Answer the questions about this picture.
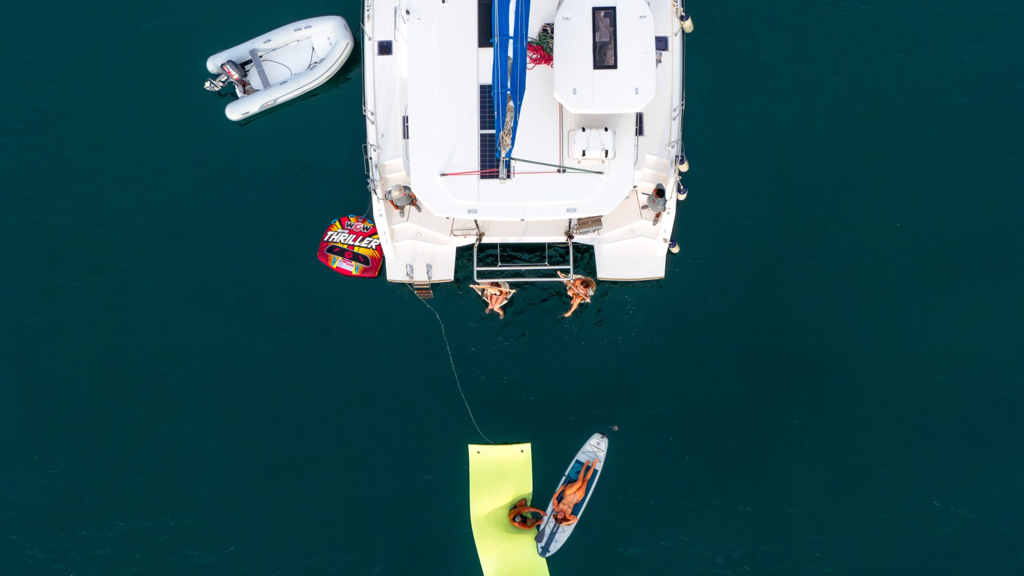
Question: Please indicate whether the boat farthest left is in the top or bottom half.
top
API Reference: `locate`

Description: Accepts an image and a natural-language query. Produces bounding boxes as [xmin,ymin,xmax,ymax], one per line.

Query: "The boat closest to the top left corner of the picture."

[201,13,355,121]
